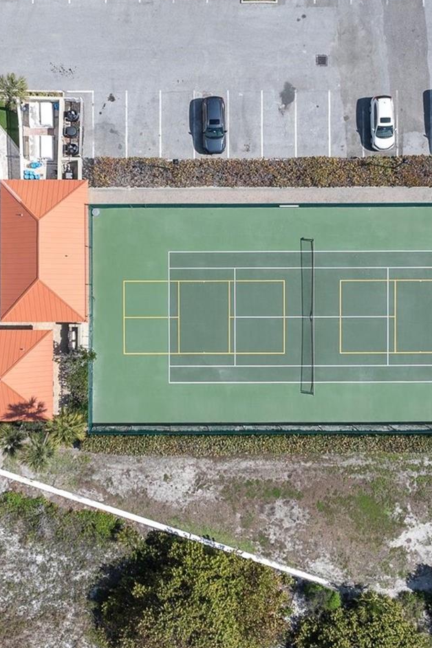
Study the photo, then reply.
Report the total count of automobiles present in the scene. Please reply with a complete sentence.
The picture shows 2 automobiles.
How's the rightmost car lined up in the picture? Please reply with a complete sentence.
In this picture, the rightmost car is oriented up and down.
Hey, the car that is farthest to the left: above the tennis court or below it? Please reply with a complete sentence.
Looking at the scene, the car that is farthest to the left is located above the tennis court.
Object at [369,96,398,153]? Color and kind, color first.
white car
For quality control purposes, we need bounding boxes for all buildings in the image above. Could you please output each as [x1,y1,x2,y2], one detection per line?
[0,179,88,322]
[0,329,57,421]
